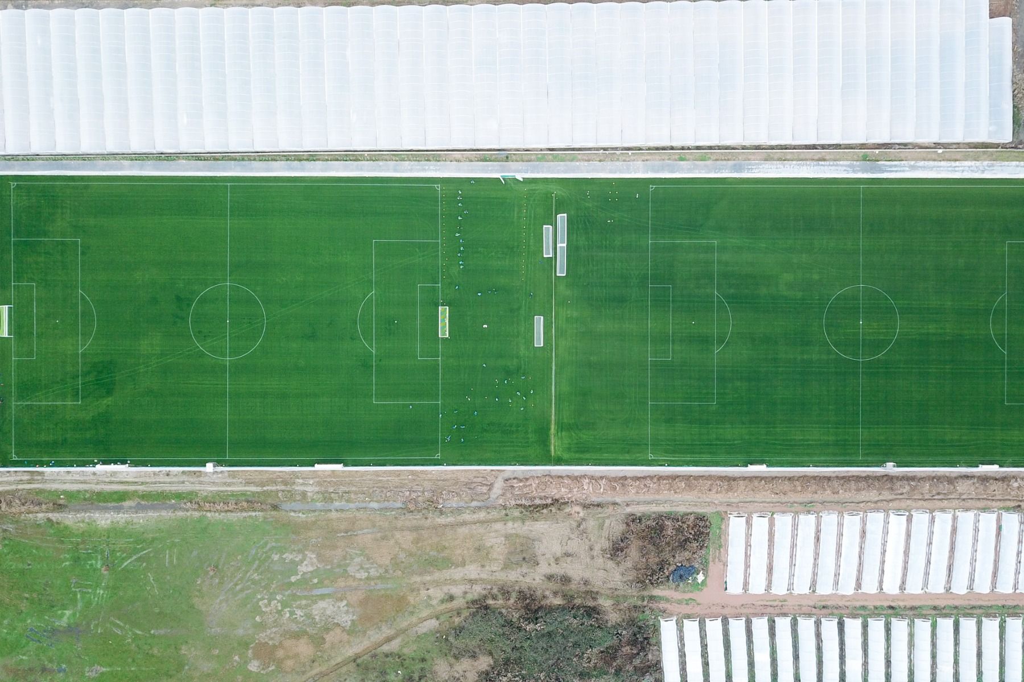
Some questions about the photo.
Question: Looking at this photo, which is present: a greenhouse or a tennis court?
greenhouse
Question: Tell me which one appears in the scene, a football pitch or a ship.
football pitch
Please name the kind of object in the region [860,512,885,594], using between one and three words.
greenhouse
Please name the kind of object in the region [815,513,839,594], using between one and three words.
greenhouse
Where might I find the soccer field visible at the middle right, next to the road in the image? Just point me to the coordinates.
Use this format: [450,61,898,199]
[649,186,1024,459]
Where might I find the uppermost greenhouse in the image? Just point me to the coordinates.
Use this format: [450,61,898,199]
[0,0,1012,154]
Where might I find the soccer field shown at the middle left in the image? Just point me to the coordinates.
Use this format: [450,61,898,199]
[10,184,440,458]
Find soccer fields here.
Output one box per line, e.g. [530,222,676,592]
[10,184,440,458]
[649,186,1024,459]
